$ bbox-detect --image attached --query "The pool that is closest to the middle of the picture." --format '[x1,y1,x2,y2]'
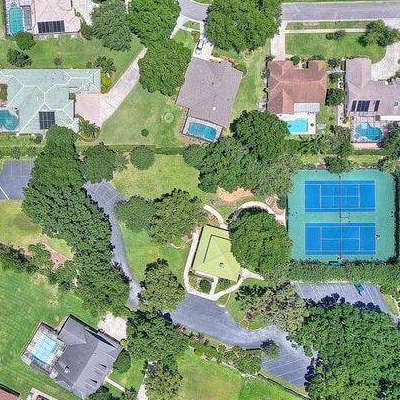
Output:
[182,116,224,142]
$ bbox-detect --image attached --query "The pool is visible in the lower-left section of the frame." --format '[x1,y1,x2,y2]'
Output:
[22,323,68,375]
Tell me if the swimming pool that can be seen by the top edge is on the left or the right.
left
